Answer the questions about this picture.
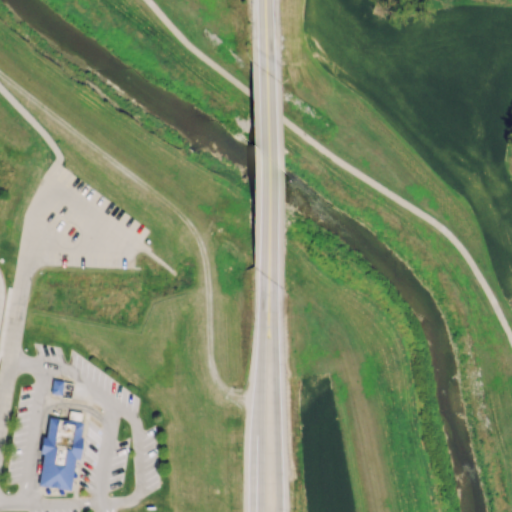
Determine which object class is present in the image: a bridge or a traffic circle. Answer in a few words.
bridge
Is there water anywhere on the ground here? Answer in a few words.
Yes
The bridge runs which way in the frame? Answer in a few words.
vertically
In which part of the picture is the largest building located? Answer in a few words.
bottom left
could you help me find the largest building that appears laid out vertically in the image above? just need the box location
[40,410,88,491]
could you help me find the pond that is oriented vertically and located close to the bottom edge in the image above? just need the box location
[301,376,356,512]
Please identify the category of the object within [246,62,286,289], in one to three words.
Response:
bridge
